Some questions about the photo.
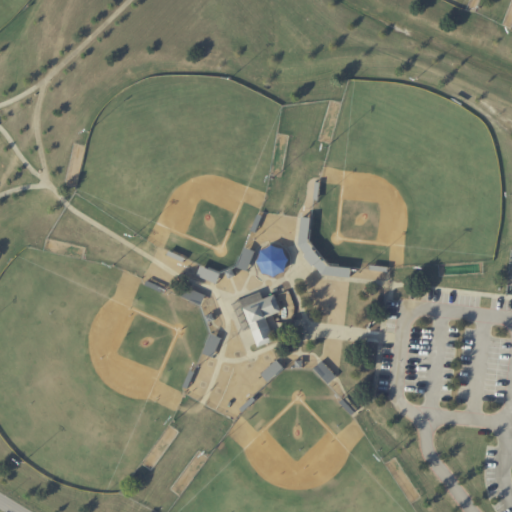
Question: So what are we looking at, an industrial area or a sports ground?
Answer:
sports ground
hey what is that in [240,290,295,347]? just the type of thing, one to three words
building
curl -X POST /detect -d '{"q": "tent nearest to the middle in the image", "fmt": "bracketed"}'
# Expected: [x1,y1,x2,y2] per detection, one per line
[256,244,290,278]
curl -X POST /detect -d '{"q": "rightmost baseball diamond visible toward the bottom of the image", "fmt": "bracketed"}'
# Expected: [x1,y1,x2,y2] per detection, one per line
[166,368,415,512]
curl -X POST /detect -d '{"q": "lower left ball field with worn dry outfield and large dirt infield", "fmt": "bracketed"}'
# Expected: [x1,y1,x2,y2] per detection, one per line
[0,248,209,493]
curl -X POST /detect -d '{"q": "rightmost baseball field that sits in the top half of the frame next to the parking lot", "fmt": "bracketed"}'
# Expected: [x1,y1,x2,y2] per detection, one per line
[311,80,502,272]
